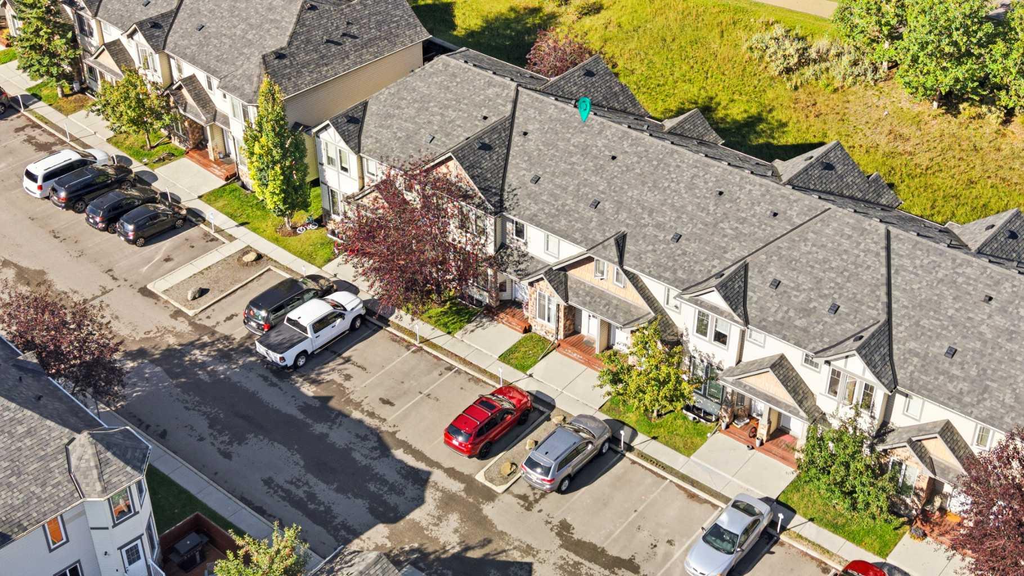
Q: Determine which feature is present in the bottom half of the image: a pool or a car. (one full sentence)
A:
You can see a car in the bottom half of the image.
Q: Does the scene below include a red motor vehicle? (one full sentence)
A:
Yes, the picture does show a red motor vehicle.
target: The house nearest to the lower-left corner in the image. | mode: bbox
[0,335,166,576]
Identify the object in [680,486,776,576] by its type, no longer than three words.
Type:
car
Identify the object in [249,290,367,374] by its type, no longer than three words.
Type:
truck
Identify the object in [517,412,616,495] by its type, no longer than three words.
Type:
car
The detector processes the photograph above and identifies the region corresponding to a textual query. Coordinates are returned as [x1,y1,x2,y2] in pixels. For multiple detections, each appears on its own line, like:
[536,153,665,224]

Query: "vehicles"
[41,158,138,214]
[240,268,341,334]
[680,486,776,576]
[440,383,535,459]
[20,143,118,196]
[517,412,616,495]
[0,91,10,116]
[79,180,166,231]
[103,196,190,246]
[249,290,367,374]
